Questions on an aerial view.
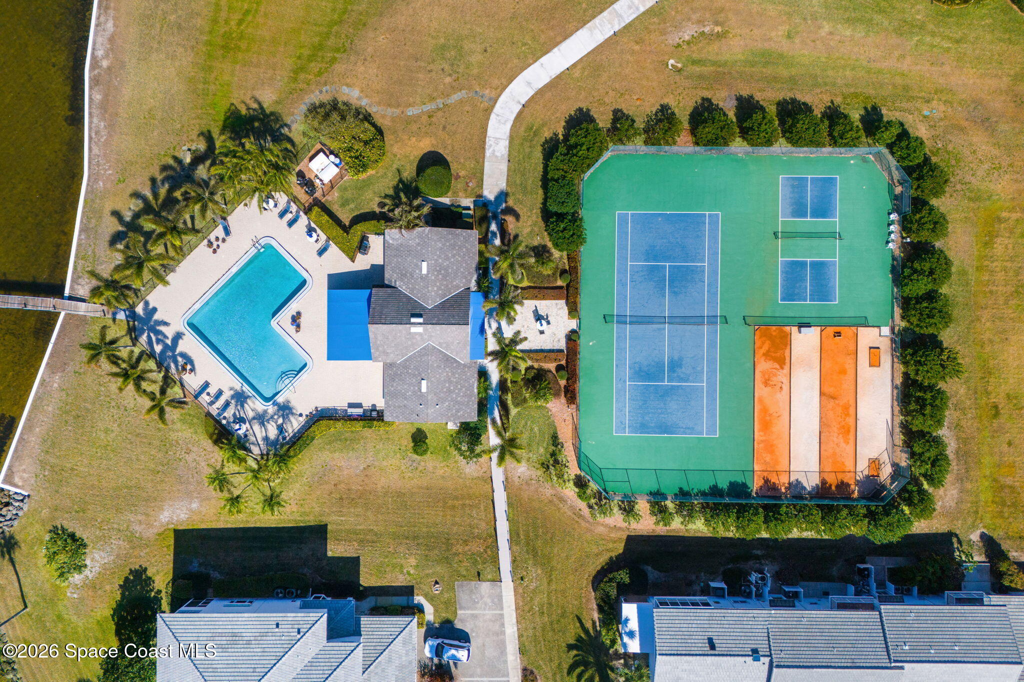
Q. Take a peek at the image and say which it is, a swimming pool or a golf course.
swimming pool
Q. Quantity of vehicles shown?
one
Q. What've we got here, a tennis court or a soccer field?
tennis court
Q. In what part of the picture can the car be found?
bottom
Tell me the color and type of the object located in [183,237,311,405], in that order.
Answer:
blue swimming pool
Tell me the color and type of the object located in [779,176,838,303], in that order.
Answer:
blue sports court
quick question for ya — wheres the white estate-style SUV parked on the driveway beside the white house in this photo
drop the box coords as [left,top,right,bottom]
[425,636,470,662]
